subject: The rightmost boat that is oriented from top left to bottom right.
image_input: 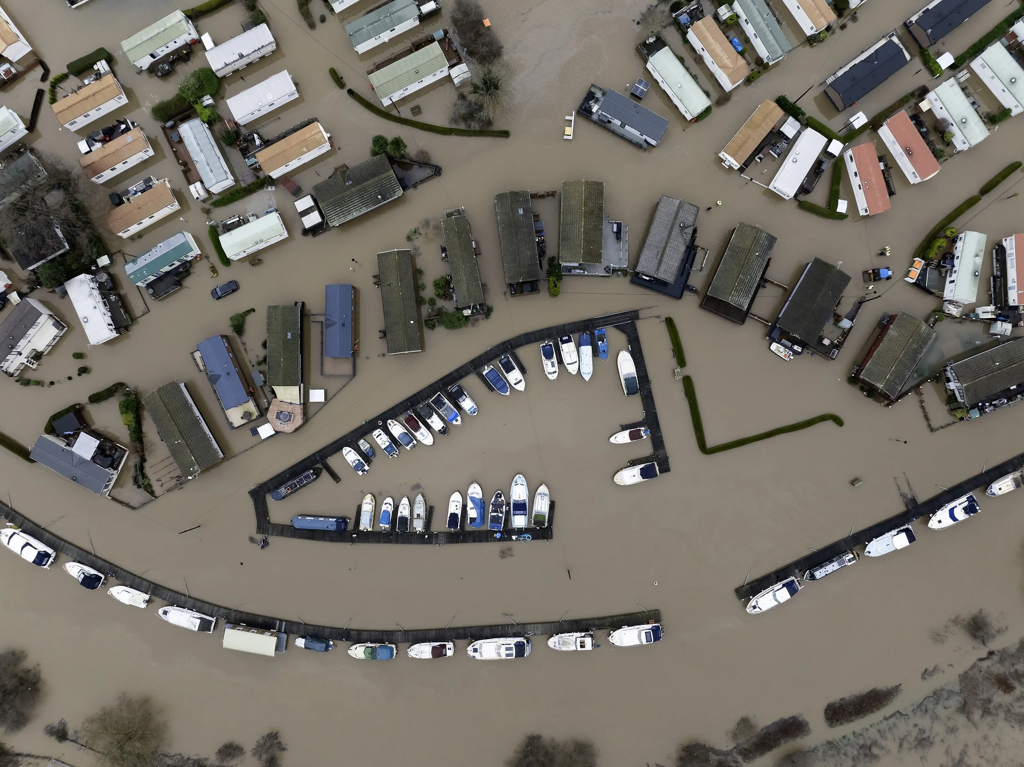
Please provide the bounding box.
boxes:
[771,343,794,361]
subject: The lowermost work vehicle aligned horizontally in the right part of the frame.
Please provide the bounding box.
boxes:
[859,265,895,283]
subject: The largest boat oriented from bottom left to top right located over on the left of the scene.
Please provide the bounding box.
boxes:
[271,466,324,500]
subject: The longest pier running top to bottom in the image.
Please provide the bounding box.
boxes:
[625,326,671,472]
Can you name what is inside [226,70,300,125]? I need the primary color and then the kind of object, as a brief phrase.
white camper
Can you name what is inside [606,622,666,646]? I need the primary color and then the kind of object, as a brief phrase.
white boat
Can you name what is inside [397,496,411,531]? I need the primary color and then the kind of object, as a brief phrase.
white boat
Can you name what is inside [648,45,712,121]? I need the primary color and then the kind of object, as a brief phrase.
white camper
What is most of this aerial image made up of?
water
